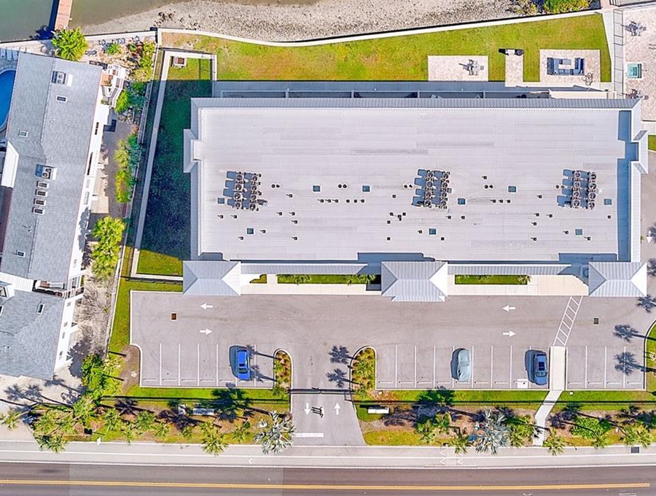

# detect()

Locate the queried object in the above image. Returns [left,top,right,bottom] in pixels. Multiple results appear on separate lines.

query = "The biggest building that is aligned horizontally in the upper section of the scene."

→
[183,90,649,301]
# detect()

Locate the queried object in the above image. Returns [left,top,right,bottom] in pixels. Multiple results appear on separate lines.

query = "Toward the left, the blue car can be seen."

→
[236,349,251,380]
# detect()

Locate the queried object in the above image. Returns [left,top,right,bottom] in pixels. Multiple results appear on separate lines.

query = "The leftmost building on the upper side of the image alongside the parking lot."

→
[0,51,128,300]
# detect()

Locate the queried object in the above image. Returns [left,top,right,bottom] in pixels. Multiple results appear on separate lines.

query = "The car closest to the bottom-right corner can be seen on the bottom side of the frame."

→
[533,349,549,384]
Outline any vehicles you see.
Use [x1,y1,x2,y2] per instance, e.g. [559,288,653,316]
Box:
[533,349,549,384]
[236,349,251,380]
[456,348,470,382]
